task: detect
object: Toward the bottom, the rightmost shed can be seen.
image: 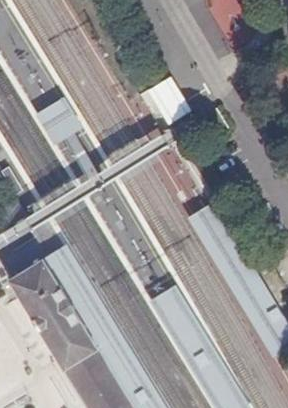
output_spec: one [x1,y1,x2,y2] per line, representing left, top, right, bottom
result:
[188,206,288,356]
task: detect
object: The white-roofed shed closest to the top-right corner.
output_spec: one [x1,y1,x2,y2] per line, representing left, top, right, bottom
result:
[142,76,190,126]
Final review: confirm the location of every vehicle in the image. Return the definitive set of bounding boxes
[216,156,238,173]
[273,204,284,223]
